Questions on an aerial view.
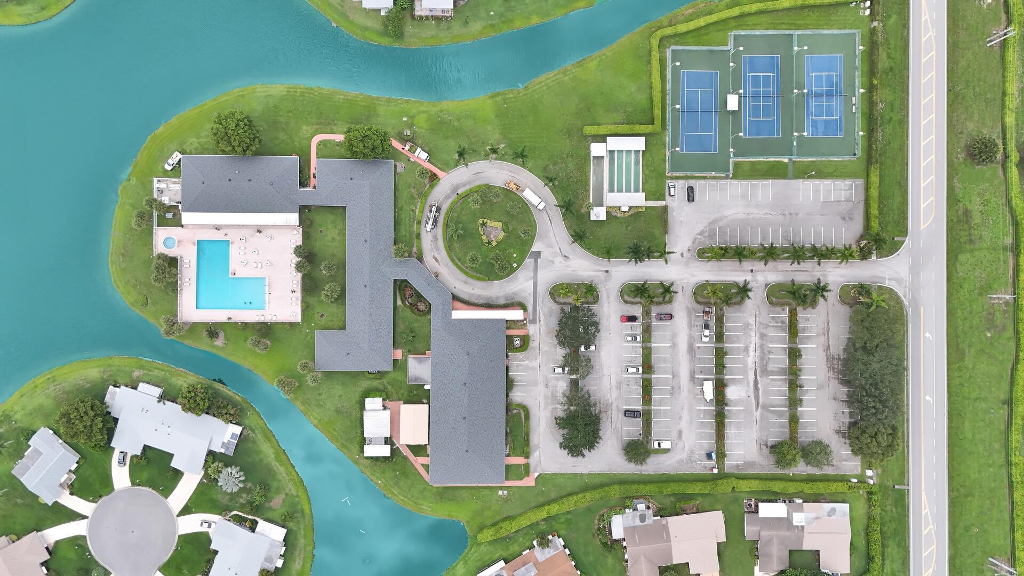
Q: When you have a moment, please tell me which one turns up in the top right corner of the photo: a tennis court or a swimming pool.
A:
tennis court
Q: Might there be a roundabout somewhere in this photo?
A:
Yes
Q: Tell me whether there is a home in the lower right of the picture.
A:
Yes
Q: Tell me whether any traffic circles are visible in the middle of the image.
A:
Yes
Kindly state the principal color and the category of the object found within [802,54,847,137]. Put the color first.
blue tennis court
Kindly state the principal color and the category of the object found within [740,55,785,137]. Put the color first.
blue tennis court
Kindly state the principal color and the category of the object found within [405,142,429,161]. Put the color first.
white vehicle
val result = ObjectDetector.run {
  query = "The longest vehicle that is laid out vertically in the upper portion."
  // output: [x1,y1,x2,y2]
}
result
[425,202,440,232]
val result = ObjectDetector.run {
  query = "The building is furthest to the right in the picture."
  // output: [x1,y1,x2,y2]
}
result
[743,497,851,574]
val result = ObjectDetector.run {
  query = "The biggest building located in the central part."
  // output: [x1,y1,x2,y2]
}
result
[291,159,523,485]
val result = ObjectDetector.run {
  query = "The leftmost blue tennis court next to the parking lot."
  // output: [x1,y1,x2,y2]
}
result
[677,70,722,153]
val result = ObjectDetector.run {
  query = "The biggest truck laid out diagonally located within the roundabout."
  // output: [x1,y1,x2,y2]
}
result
[522,189,546,210]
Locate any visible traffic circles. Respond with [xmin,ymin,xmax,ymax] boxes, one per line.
[423,166,558,300]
